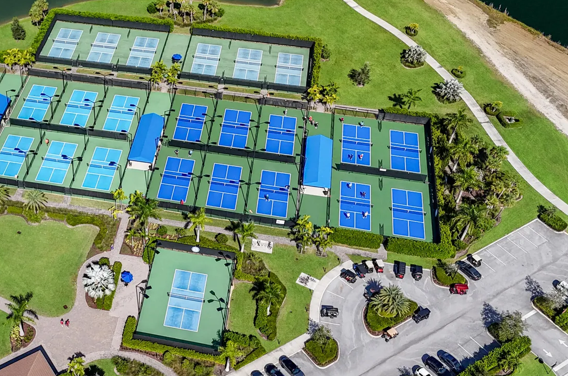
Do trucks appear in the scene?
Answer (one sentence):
No, the scene contains no truck.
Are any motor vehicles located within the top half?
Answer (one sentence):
No, within the top half there is no motor vehicle.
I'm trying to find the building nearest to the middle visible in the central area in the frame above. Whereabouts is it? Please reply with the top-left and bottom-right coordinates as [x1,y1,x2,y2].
[301,135,333,199]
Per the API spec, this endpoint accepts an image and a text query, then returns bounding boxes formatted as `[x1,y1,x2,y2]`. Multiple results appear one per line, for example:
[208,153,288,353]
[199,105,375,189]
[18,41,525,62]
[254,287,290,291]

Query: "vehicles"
[450,281,470,296]
[394,261,406,278]
[265,364,283,376]
[413,366,433,376]
[413,305,431,321]
[458,261,482,281]
[363,281,382,299]
[468,253,484,268]
[374,258,385,273]
[555,281,568,294]
[280,357,303,376]
[436,353,460,371]
[340,270,356,284]
[422,355,449,376]
[412,266,422,279]
[363,258,375,273]
[352,264,366,278]
[321,305,338,318]
[382,326,399,341]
